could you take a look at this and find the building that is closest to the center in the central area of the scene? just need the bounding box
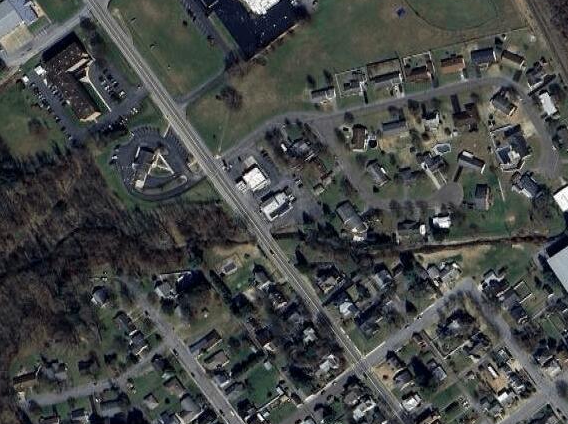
[262,191,294,221]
